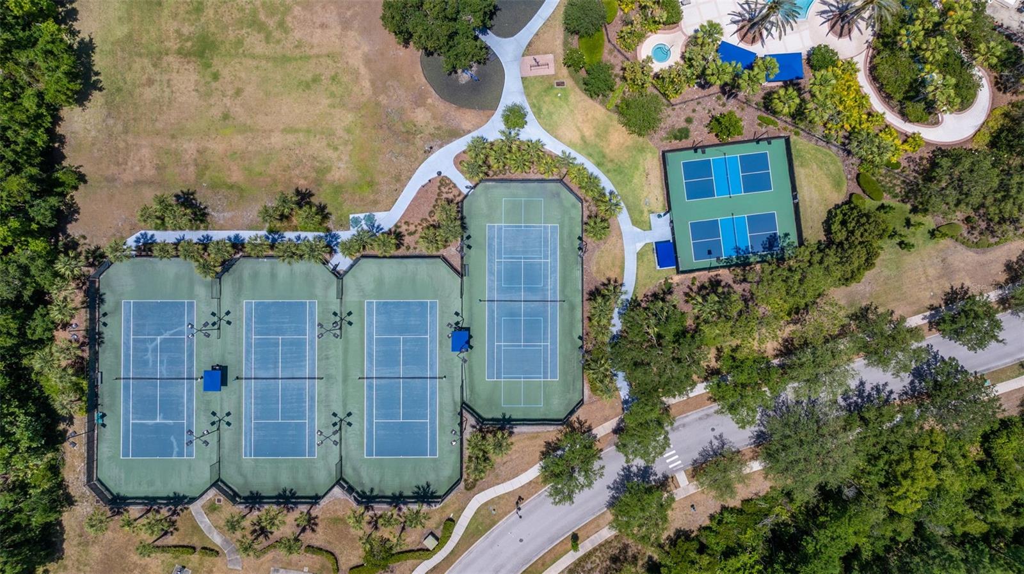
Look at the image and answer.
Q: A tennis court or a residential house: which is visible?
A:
tennis court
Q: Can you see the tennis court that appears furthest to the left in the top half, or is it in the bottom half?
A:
bottom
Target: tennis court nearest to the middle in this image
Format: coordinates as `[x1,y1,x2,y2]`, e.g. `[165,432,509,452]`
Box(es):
[462,181,583,421]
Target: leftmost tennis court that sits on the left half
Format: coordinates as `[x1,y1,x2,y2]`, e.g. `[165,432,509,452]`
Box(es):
[98,258,220,498]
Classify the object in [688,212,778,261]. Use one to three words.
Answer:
sports court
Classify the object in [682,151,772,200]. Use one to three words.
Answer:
sports court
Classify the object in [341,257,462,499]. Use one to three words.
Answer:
tennis court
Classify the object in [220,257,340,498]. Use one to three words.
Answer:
tennis court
